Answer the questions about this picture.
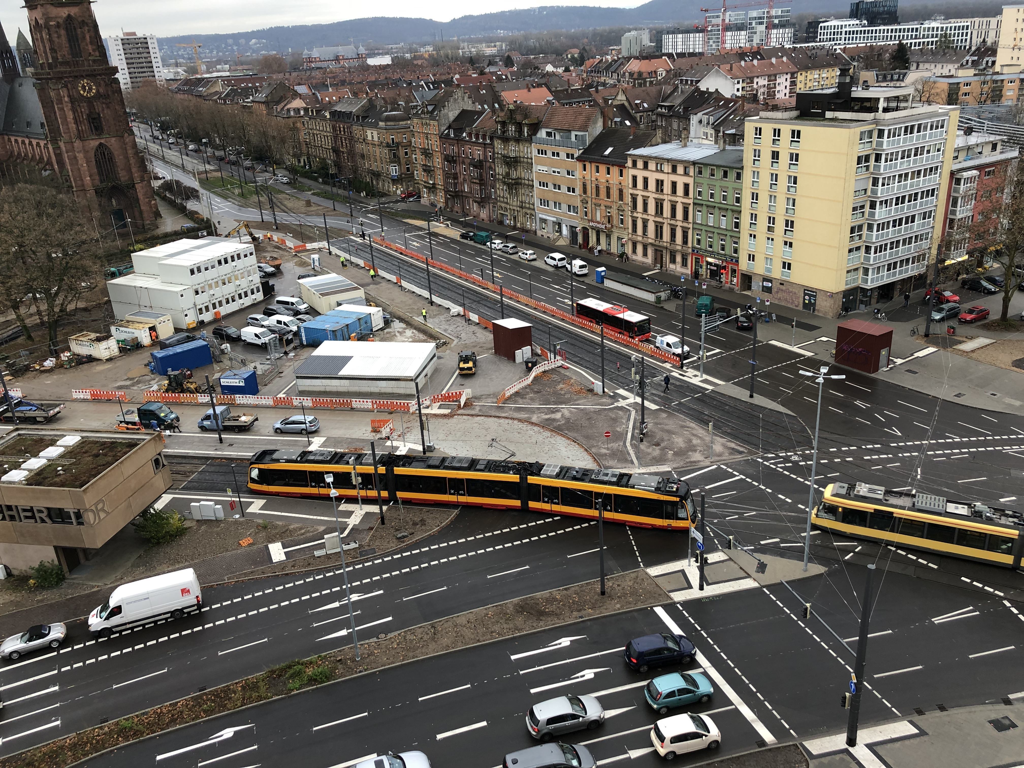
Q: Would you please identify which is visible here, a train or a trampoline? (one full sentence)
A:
I can see a train in this picture.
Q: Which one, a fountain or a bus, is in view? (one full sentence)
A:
There is a bus in the scene.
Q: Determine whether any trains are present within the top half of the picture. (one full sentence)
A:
No, looking within the top half of the picture, there is no train.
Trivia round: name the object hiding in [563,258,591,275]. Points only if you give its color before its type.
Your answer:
white vehicle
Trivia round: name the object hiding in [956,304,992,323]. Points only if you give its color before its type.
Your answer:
red car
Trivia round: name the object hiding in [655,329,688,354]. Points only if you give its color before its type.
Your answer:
white vehicle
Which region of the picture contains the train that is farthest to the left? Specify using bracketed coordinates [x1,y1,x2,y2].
[249,435,699,528]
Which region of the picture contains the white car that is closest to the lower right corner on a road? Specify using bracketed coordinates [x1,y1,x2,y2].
[649,711,724,762]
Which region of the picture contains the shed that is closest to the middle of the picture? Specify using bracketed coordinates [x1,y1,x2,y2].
[490,310,540,363]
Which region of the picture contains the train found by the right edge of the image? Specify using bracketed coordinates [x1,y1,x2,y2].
[815,476,1024,569]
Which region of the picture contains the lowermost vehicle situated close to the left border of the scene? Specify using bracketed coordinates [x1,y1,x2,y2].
[1,622,71,660]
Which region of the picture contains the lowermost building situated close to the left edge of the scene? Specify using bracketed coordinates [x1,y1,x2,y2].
[0,428,174,567]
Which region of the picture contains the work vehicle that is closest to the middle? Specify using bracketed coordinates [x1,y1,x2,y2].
[453,348,484,379]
